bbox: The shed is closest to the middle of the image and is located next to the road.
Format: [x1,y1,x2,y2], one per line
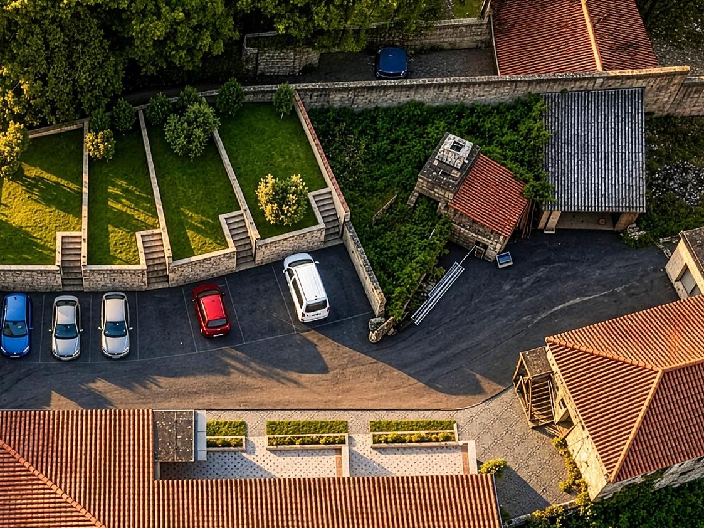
[413,133,530,265]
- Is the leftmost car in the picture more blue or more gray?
blue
